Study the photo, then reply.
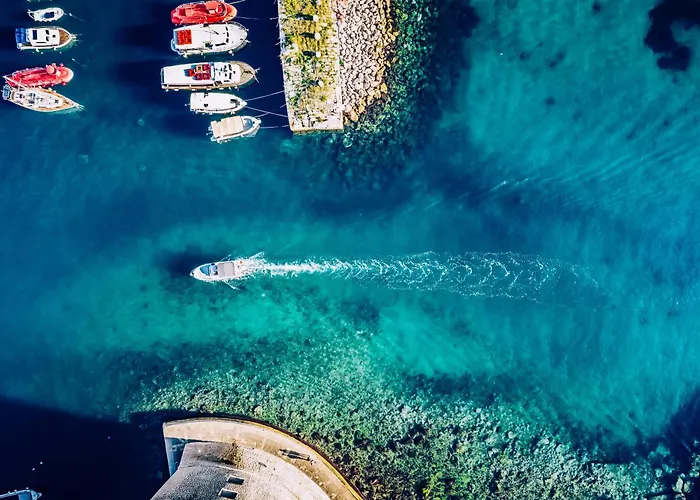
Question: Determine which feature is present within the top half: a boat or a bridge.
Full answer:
The feature located within the top half is a boat.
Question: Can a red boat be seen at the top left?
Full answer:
Yes, a red boat can be seen at the top left.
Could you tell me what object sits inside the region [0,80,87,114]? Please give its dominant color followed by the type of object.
white boat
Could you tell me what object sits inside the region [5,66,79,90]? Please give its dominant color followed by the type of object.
red boat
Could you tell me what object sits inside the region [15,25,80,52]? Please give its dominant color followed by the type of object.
white boat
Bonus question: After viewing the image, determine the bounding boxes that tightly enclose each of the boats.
[5,66,79,90]
[15,25,80,52]
[161,57,262,93]
[26,6,67,24]
[187,260,252,281]
[185,92,250,115]
[171,0,239,26]
[170,19,252,58]
[0,80,87,114]
[206,114,264,145]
